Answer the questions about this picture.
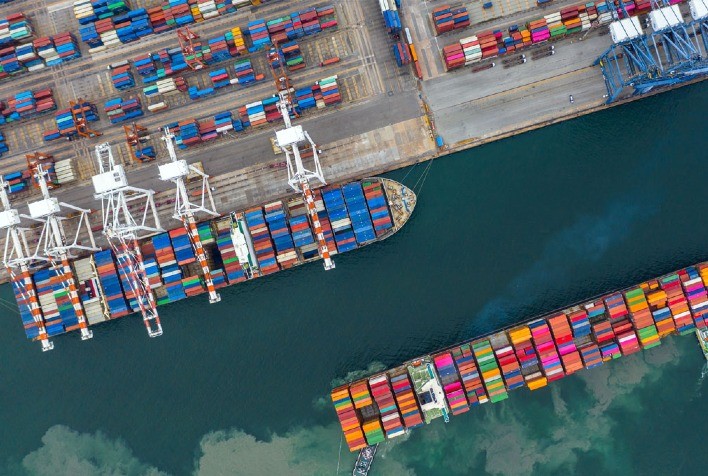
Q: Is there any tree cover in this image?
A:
No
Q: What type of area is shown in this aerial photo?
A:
port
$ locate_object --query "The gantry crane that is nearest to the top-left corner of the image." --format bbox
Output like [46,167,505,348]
[69,99,106,143]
